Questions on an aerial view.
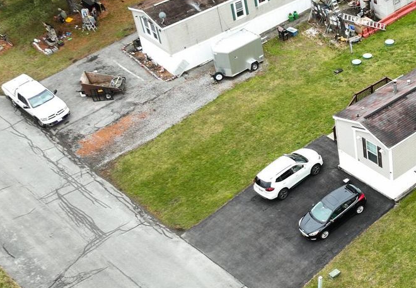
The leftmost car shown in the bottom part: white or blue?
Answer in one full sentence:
The color of the leftmost car shown in the bottom part is white.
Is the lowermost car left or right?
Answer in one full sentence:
The lowermost car sits on the right side.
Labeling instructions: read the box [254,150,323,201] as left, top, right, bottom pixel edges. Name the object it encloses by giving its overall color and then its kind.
white car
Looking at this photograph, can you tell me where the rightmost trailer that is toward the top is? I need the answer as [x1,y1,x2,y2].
[200,27,264,78]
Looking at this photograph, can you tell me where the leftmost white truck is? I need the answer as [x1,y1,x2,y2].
[0,76,67,126]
